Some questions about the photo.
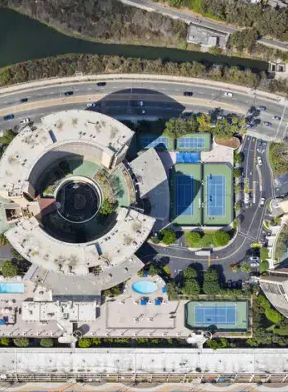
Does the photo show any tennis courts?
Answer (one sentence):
Yes, a tennis court can be made out from above.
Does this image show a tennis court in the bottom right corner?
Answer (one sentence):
Yes, you'll find a tennis court in the bottom right corner.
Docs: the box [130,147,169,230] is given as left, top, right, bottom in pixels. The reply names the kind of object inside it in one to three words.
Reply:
building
